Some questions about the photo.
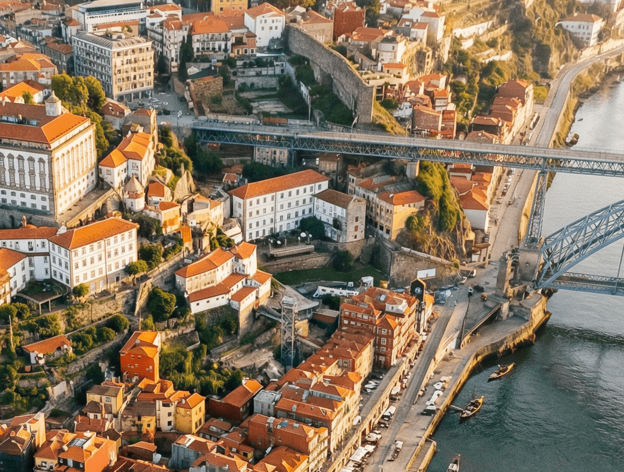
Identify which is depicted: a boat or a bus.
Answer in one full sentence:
Of the two, only a boat appears.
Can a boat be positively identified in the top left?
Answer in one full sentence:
No, I see no boat in the top left.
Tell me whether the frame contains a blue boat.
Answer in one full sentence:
No, no blue boat is visible in the scene.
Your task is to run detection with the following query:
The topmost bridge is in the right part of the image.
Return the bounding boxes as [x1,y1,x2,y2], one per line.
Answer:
[191,117,624,297]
